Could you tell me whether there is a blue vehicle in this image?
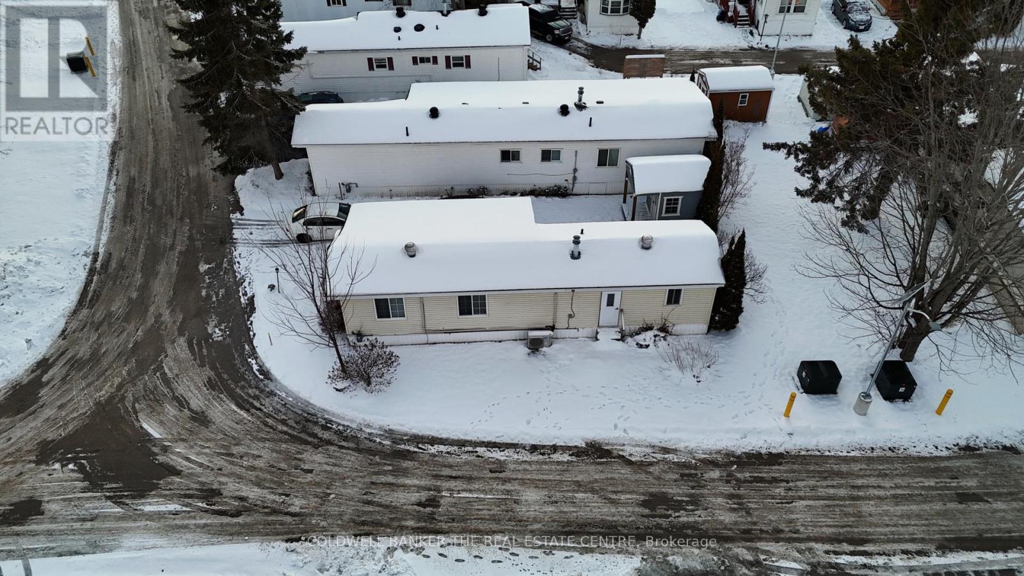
No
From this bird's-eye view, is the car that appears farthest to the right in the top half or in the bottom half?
top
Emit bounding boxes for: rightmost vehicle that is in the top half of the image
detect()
[833,0,879,28]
